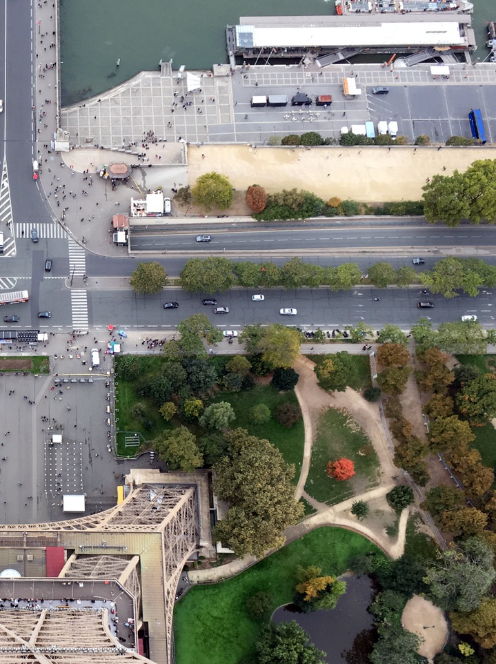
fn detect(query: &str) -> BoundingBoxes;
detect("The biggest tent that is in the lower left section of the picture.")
[64,495,85,511]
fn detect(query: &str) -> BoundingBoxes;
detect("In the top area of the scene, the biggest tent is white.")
[146,193,165,218]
